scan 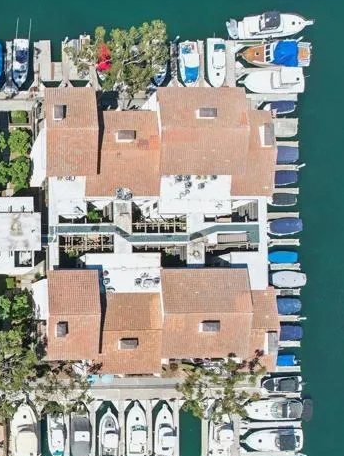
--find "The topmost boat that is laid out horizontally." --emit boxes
[237,11,317,43]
